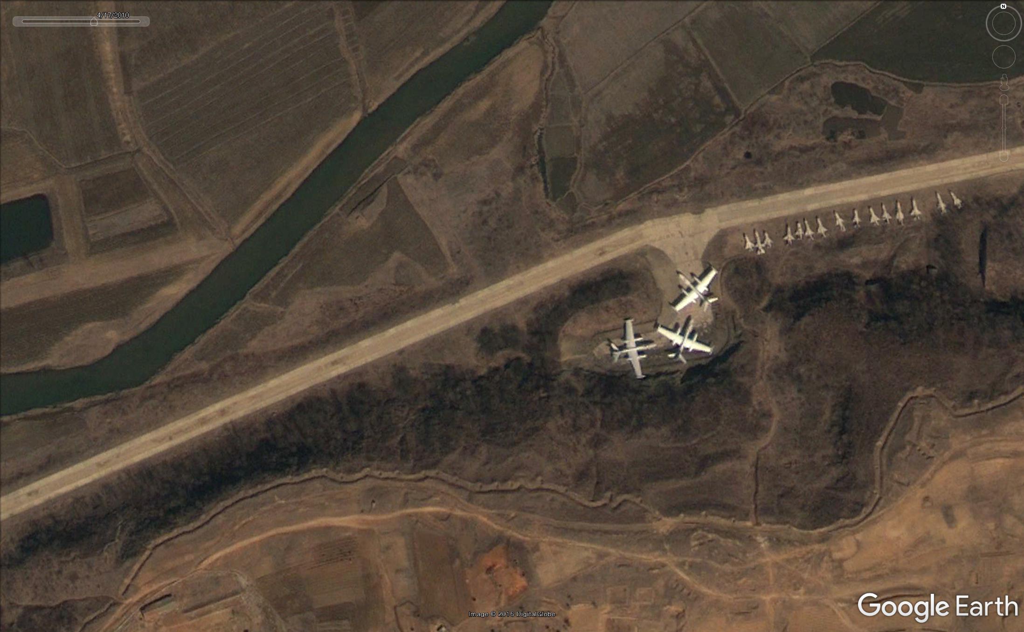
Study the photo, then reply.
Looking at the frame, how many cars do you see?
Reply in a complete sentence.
No cars are visible.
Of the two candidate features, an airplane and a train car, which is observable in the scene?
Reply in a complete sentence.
Of the two, only an airplane appears.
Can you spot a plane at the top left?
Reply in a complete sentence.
No, no plane can be made out at the top left.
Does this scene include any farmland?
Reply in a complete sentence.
Yes, the picture does contain farmland.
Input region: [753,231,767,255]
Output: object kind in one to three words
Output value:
airplane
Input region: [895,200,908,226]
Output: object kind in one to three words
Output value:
airplane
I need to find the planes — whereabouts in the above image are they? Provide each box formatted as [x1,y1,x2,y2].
[910,199,923,221]
[951,191,962,209]
[610,318,658,379]
[765,232,773,248]
[746,235,754,252]
[818,218,829,238]
[835,211,848,232]
[852,209,862,228]
[655,317,714,364]
[937,192,948,214]
[805,219,816,241]
[882,204,892,224]
[895,200,908,226]
[796,222,805,240]
[785,225,796,246]
[753,231,767,255]
[673,266,721,316]
[870,206,881,226]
